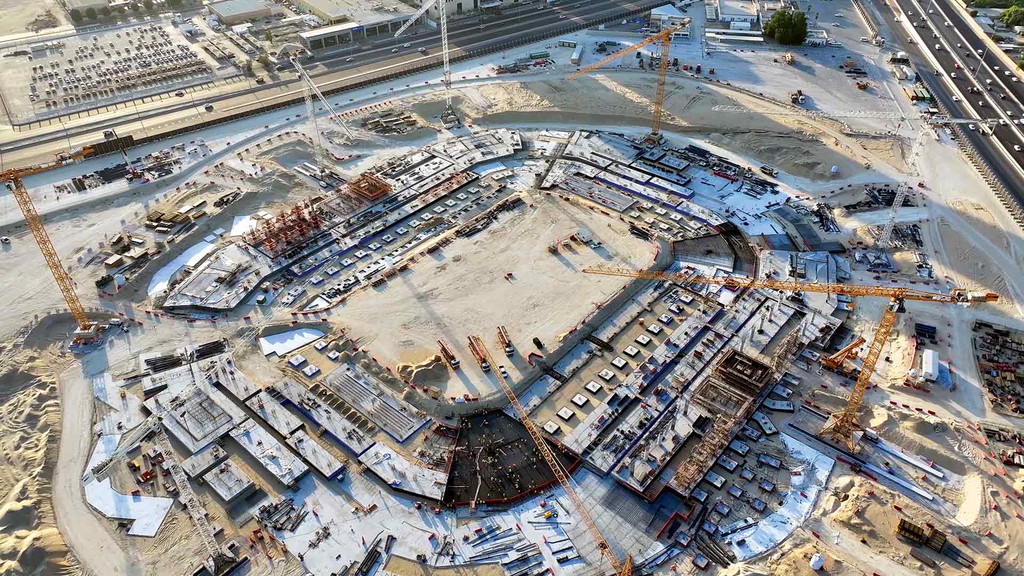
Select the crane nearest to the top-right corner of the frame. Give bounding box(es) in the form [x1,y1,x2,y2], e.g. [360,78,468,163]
[713,107,1002,272]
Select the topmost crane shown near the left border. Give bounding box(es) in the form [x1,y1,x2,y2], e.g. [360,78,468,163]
[0,161,101,349]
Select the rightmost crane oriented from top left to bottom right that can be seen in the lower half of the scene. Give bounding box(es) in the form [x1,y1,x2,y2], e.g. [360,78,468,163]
[469,335,636,576]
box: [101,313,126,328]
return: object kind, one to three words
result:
vehicle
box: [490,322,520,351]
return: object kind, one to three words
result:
truck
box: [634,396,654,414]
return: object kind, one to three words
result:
work vehicle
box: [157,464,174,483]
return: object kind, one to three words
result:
work vehicle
